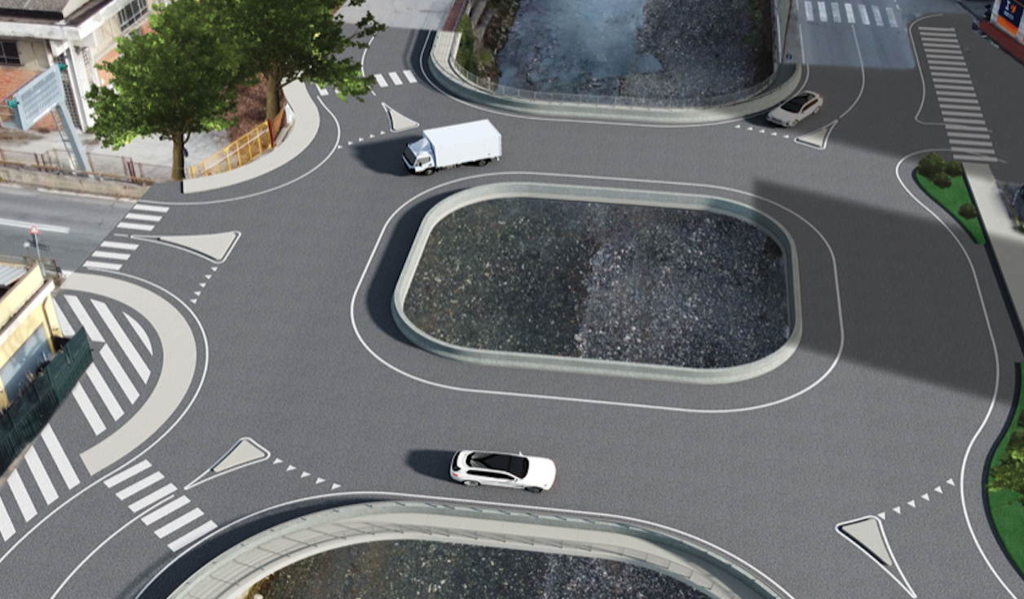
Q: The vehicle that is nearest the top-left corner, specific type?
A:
truck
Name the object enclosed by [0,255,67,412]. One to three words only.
building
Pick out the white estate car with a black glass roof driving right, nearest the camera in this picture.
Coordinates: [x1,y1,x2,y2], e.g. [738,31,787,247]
[451,445,557,493]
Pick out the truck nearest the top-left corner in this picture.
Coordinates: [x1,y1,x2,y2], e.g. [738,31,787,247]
[403,116,502,176]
